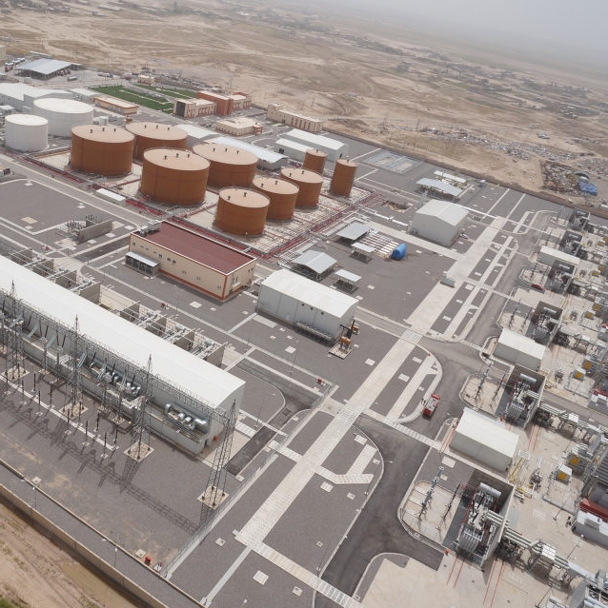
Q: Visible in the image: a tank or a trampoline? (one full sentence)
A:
Looking from above, you can make out a tank.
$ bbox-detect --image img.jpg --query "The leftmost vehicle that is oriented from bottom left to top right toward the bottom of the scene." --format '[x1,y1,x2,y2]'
[424,394,442,413]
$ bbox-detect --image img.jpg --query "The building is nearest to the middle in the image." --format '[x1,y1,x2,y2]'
[254,268,365,346]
